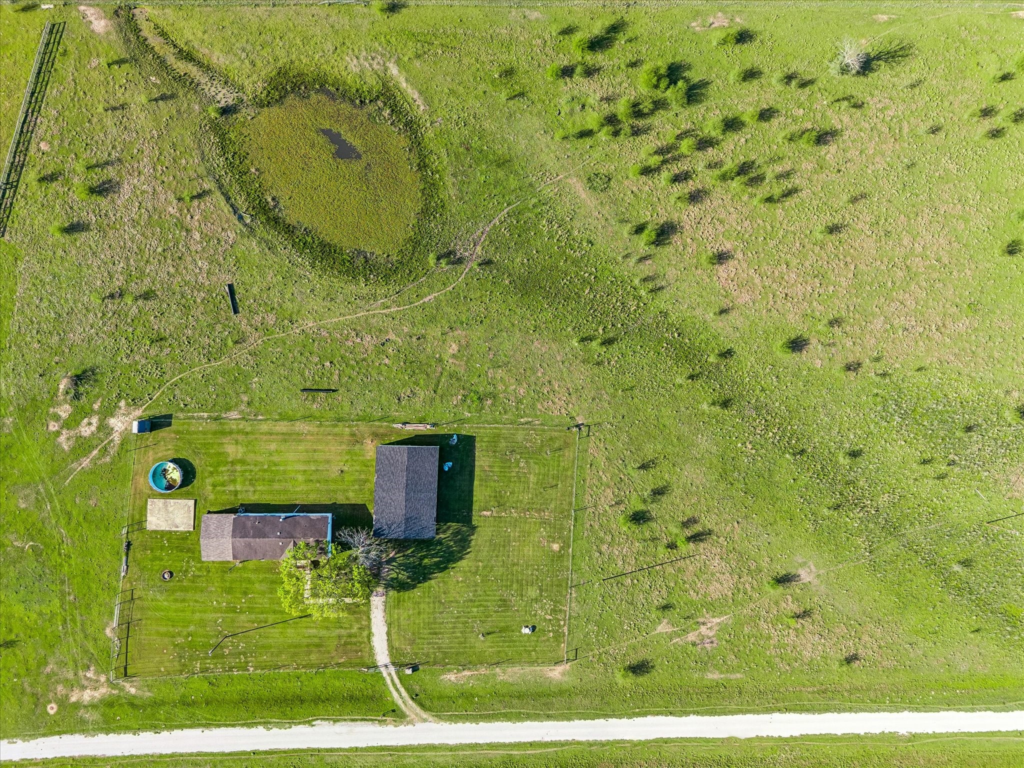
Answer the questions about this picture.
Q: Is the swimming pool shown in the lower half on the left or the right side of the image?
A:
left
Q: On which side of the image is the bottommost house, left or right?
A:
left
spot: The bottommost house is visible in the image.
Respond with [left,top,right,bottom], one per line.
[198,513,333,563]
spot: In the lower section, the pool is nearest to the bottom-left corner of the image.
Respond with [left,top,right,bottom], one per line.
[148,456,187,495]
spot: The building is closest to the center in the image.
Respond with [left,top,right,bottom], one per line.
[374,445,438,539]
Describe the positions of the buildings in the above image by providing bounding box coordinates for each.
[198,513,333,563]
[374,445,438,539]
[133,420,151,433]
